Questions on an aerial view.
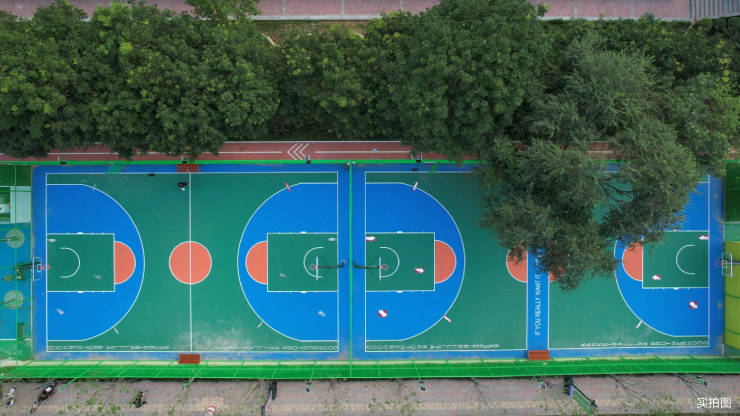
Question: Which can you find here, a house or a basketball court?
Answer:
basketball court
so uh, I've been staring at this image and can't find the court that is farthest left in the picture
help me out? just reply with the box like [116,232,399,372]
[0,164,31,361]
